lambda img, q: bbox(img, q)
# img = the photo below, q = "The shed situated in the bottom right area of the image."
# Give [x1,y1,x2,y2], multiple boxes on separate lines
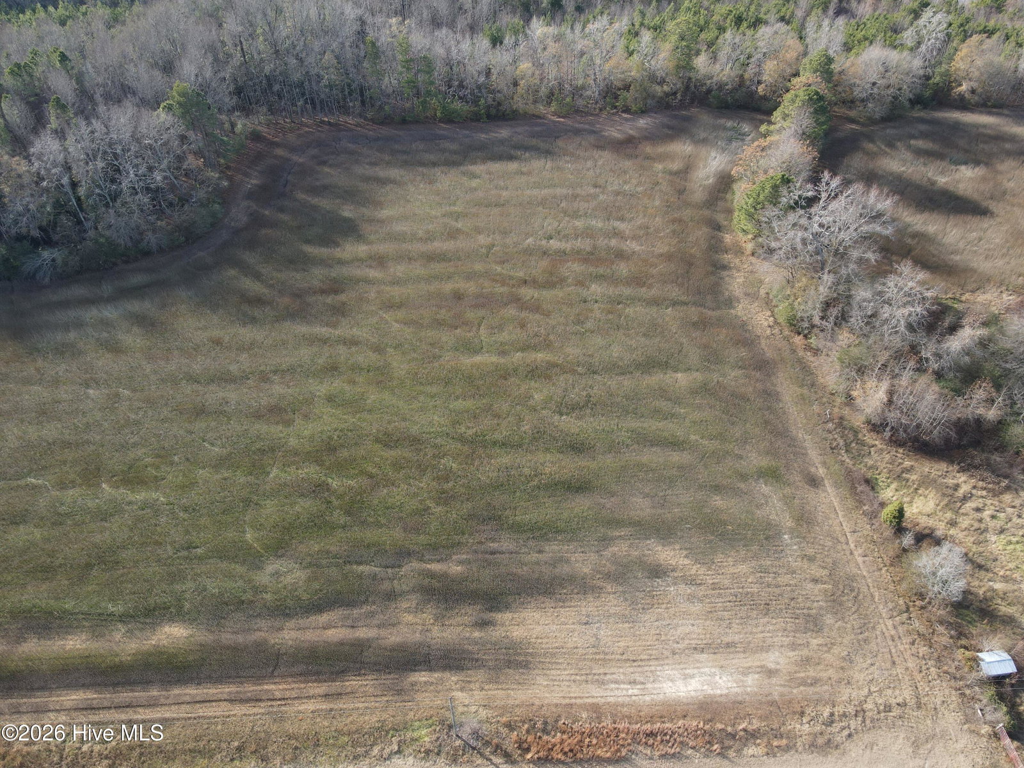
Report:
[971,651,1018,681]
